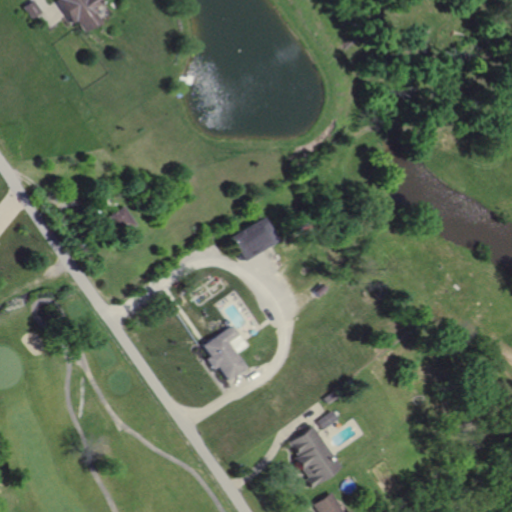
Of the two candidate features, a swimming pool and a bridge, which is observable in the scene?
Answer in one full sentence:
I can see a swimming pool in this picture.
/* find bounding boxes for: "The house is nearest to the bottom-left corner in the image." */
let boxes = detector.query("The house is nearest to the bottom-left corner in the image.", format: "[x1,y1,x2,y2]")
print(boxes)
[202,328,250,383]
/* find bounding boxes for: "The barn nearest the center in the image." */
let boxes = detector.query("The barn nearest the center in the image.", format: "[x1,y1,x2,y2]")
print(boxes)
[232,217,280,260]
